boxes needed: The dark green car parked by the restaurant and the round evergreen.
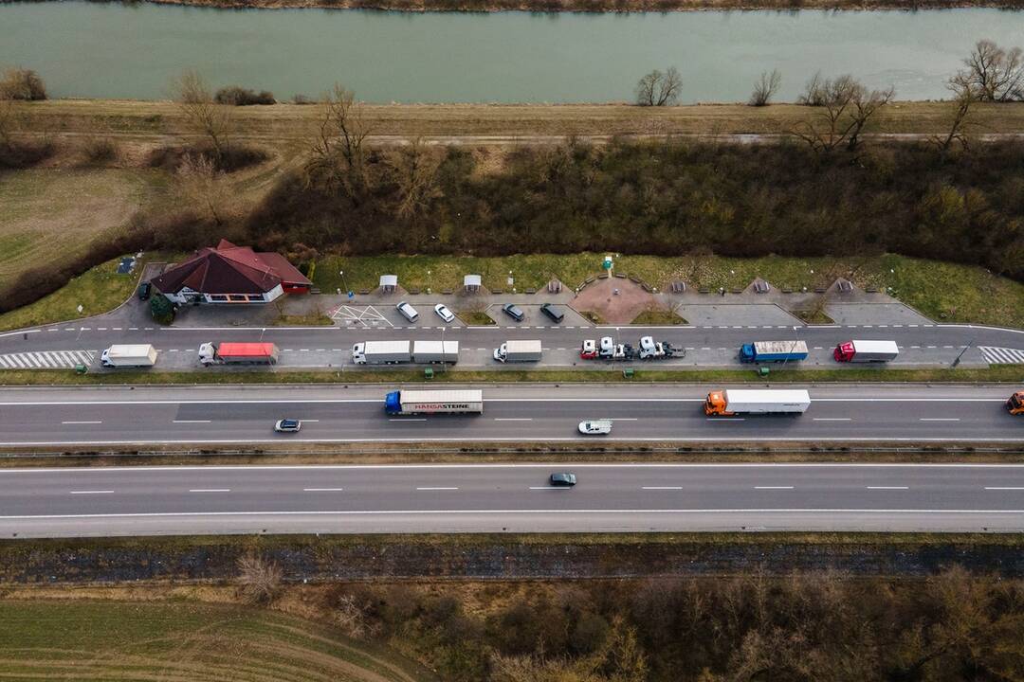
[136,283,154,301]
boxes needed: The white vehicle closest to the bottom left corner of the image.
[98,342,159,366]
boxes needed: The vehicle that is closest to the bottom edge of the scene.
[549,472,577,486]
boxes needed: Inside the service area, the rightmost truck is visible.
[832,338,900,362]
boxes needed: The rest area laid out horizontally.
[0,261,1024,373]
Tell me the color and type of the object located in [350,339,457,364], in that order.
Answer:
white truck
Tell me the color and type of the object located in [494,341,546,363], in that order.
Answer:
white truck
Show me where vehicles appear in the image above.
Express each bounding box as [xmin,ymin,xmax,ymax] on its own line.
[641,339,690,363]
[384,389,482,414]
[541,303,563,323]
[549,472,577,486]
[738,339,808,363]
[350,339,457,364]
[504,303,524,322]
[273,419,300,433]
[197,342,278,365]
[435,303,453,322]
[705,390,811,415]
[398,302,417,322]
[602,340,641,362]
[579,420,615,434]
[494,341,546,363]
[832,338,900,362]
[581,342,618,363]
[1006,392,1024,415]
[136,283,154,301]
[98,342,159,366]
